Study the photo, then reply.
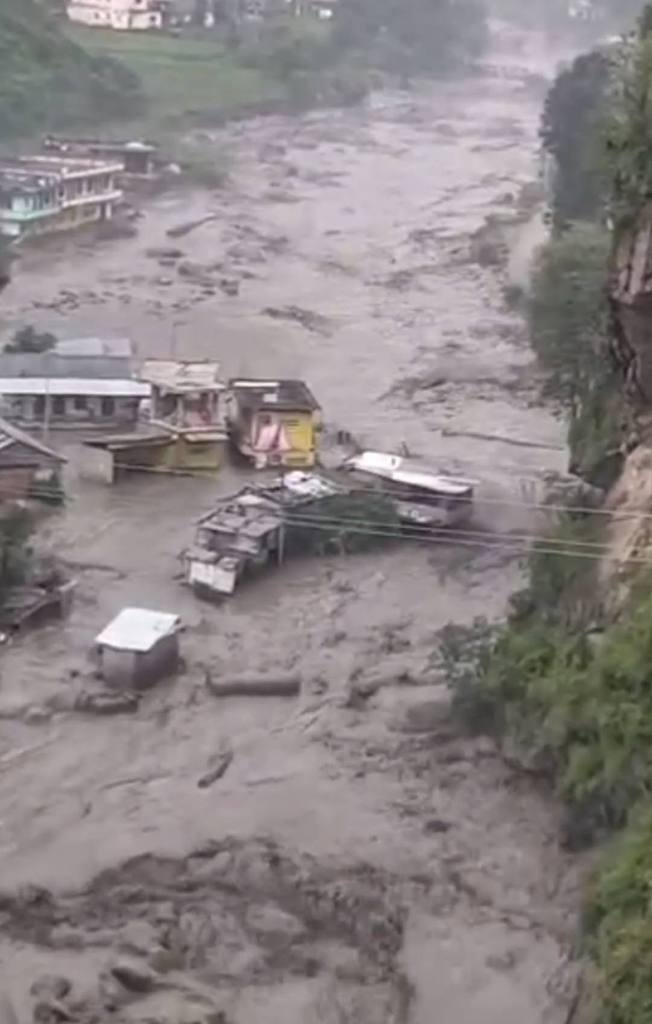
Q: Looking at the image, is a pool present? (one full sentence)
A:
No, the picture doesn't show any pool.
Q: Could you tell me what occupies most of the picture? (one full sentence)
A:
The scene is dominated by water.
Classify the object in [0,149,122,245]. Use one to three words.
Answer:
building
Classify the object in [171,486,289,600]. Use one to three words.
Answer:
shed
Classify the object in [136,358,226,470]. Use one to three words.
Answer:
house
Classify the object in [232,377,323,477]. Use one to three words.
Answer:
house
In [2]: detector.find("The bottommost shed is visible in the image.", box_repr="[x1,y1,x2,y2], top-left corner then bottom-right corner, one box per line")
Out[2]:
[95,609,186,692]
